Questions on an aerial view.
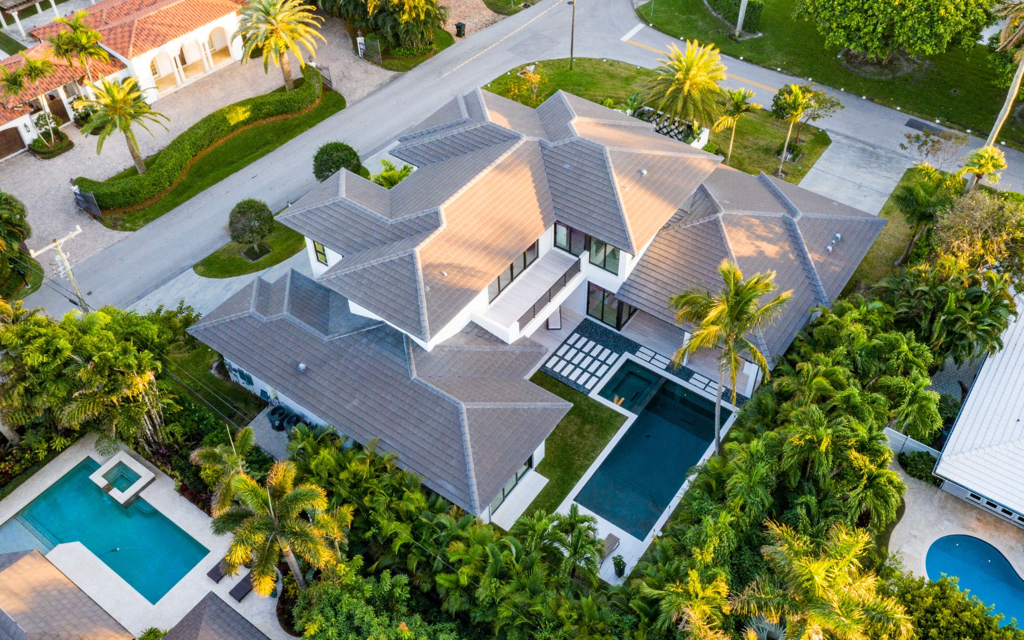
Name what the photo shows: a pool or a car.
pool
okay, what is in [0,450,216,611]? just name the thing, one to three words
swimming pool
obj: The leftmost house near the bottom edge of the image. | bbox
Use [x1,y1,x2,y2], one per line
[0,549,138,640]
